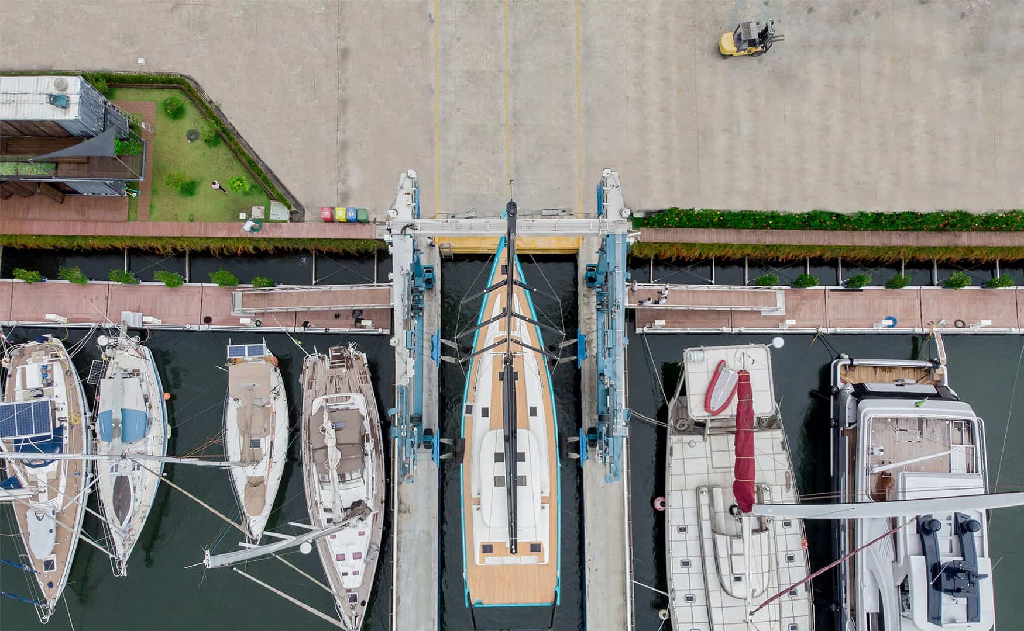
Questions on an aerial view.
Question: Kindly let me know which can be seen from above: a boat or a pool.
boat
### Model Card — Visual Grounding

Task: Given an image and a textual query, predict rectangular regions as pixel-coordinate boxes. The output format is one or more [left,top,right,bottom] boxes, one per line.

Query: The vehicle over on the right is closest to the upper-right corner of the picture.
[720,19,788,59]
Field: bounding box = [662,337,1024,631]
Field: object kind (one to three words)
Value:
boat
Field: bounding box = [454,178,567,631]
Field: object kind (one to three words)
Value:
boat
